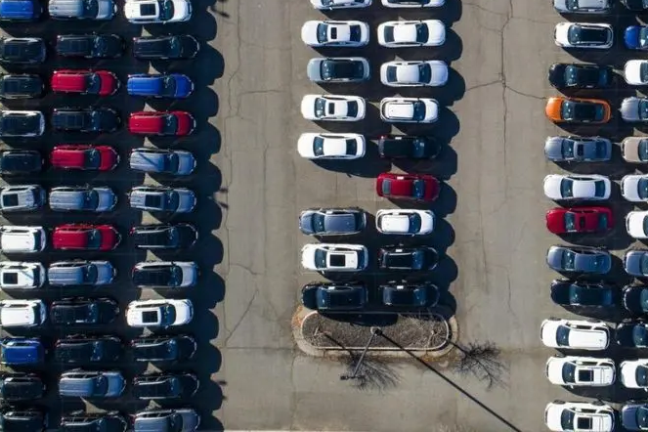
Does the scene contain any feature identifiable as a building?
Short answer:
No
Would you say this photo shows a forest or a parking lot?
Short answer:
parking lot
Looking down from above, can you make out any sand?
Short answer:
No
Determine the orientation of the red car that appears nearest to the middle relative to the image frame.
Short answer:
horizontally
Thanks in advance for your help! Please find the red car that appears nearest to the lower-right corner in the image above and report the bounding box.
[546,205,615,236]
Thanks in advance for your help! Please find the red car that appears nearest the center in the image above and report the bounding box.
[377,173,441,203]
